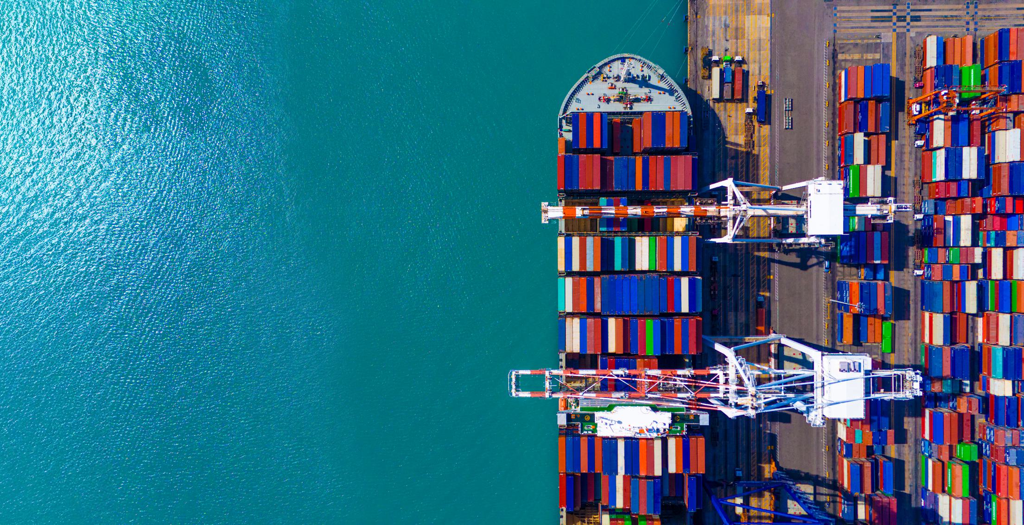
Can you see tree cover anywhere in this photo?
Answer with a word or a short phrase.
No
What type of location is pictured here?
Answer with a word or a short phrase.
port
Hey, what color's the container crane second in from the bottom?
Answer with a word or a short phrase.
white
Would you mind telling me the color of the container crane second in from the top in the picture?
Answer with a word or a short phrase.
white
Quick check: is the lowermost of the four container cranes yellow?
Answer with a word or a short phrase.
No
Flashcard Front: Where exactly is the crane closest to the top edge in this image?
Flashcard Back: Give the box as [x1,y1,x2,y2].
[909,87,1009,126]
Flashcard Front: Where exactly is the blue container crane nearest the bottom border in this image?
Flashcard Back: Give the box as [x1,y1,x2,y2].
[699,449,825,525]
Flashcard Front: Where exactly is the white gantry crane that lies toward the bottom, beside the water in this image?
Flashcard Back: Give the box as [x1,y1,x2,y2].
[508,324,923,428]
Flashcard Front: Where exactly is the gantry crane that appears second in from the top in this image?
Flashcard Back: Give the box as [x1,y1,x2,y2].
[541,176,912,255]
